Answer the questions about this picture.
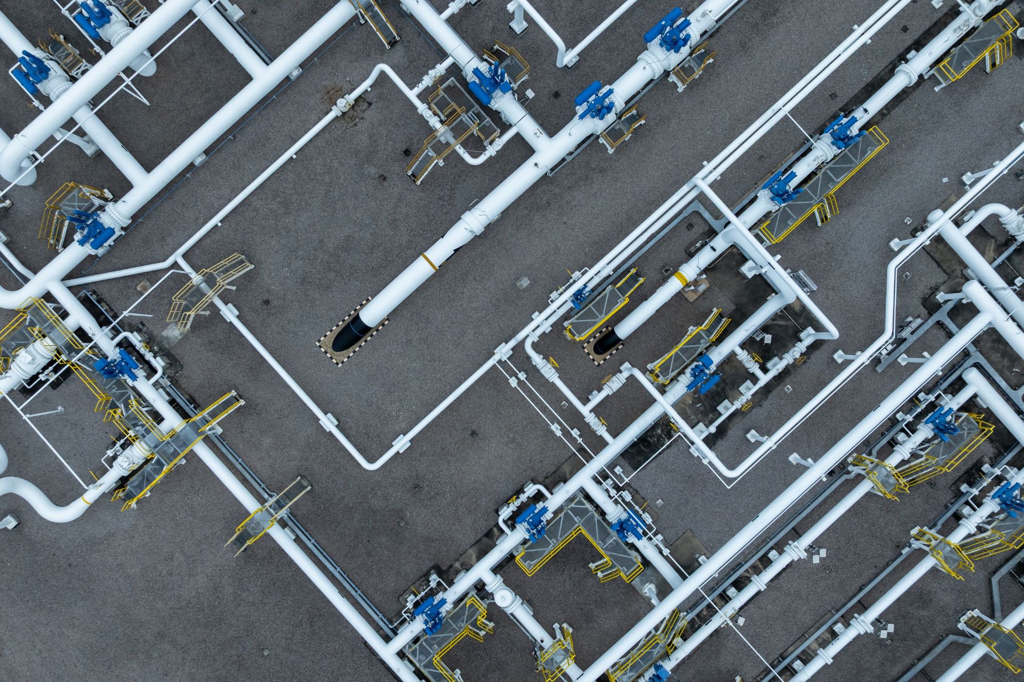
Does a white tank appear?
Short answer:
No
